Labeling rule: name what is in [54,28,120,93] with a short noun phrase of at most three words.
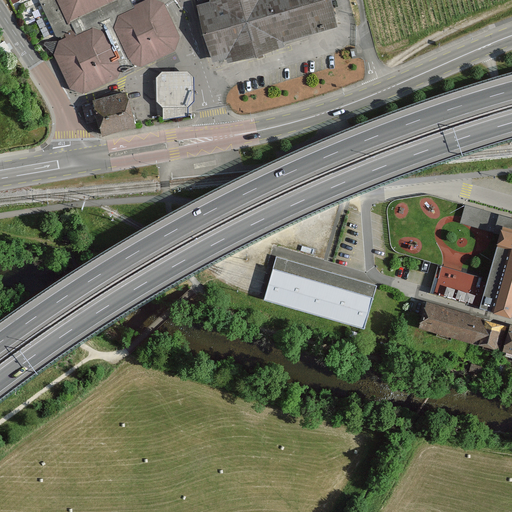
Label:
house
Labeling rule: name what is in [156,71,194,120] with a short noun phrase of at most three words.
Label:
building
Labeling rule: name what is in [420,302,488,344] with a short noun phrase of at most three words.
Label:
house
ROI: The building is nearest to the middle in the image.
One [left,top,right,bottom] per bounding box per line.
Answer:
[264,257,376,329]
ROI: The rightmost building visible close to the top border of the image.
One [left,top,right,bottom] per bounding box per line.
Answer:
[196,0,337,62]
